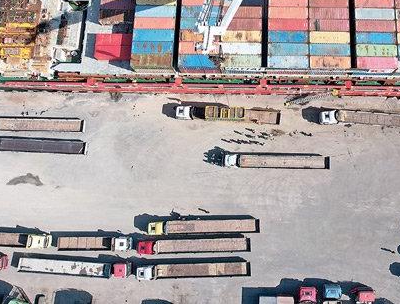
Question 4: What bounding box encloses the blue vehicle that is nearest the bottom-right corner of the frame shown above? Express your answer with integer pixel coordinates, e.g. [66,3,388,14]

[322,280,343,304]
